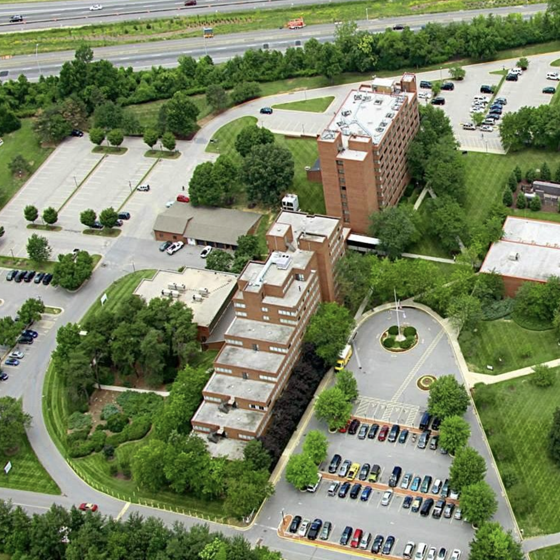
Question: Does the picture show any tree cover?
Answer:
Yes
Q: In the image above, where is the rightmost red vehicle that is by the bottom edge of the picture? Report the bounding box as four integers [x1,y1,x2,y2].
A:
[349,528,365,549]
